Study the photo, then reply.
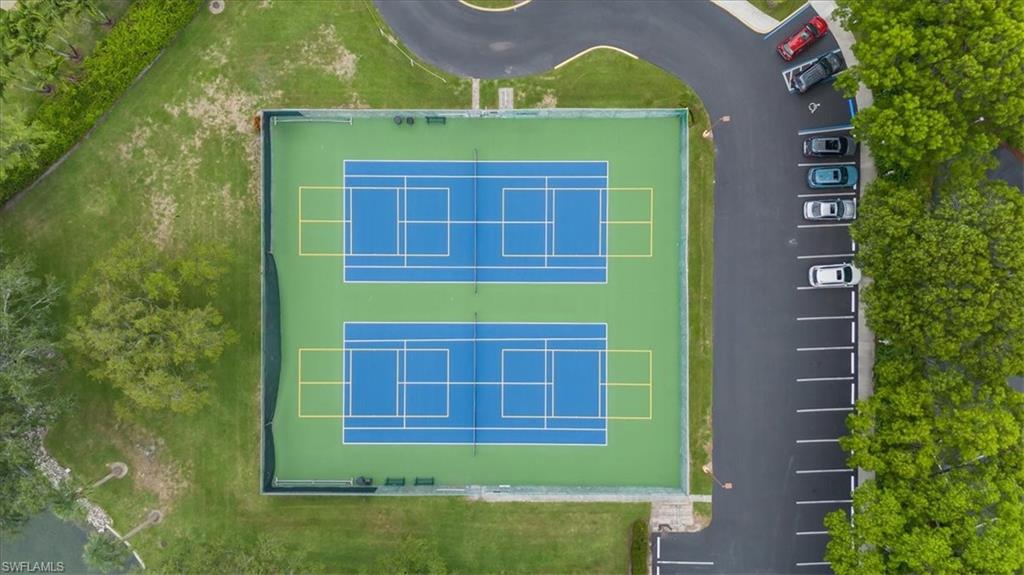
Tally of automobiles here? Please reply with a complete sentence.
Altogether the scene contains 6 automobiles.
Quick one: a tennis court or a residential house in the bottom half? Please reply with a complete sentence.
Looking in the bottom half, you will find a tennis court.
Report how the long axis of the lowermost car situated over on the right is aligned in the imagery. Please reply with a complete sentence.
The lowermost car situated over on the right is laid out horizontally.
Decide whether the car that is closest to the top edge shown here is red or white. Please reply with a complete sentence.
In this view, the car that is closest to the top edge is red.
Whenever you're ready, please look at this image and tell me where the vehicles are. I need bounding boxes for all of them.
[810,262,864,287]
[805,132,859,157]
[794,49,850,90]
[805,196,859,220]
[779,16,830,59]
[809,163,861,188]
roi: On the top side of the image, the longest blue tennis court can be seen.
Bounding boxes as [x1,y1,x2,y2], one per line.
[343,160,609,284]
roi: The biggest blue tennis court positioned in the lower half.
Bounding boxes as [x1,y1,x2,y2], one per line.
[342,322,608,445]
